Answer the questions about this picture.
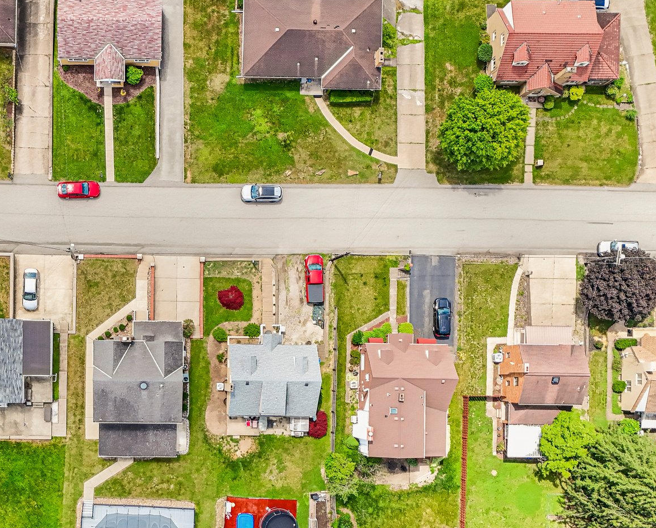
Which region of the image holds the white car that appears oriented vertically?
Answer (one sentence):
The white car that appears oriented vertically appears toward the left of the photo.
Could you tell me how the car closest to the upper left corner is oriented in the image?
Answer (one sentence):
In this picture, the car closest to the upper left corner lies horizontally.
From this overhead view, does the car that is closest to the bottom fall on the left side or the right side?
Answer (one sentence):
The car that is closest to the bottom sits on the right side.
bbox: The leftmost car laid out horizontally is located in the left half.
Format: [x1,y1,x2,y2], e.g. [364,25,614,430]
[56,179,101,200]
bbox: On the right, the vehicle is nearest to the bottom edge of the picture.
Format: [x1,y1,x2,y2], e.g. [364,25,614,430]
[430,296,453,339]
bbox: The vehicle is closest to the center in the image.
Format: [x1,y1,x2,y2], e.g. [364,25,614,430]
[303,253,325,306]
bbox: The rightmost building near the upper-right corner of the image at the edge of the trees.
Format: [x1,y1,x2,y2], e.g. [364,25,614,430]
[478,0,621,98]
